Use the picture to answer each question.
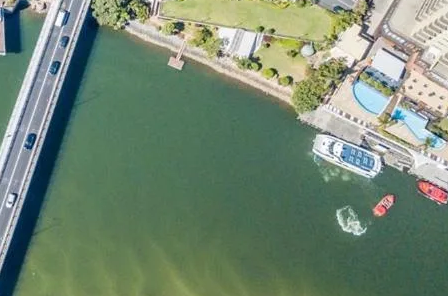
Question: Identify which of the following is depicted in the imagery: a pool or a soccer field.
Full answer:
This aerial view contains a pool.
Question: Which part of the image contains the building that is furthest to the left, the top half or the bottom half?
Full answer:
The building that is furthest to the left is in the top half of the image.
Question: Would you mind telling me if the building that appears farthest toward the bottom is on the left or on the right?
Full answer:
It is on the right.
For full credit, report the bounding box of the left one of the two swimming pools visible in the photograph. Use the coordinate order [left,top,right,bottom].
[352,79,392,117]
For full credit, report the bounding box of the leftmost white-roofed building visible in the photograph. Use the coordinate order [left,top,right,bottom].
[217,28,255,60]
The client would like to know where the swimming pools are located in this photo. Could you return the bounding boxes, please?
[390,106,447,152]
[352,79,392,117]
